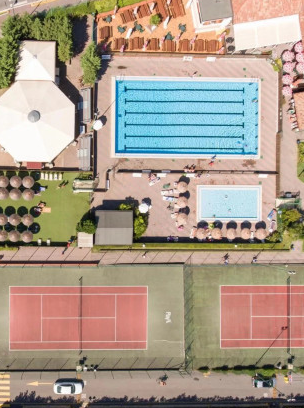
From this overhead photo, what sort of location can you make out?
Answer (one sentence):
It's a sports ground.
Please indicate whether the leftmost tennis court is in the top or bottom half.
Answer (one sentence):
The leftmost tennis court is in the bottom half of the image.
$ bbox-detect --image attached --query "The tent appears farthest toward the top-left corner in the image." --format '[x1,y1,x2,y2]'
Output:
[15,40,57,83]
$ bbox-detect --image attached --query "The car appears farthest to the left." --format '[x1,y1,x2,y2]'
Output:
[55,382,82,397]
